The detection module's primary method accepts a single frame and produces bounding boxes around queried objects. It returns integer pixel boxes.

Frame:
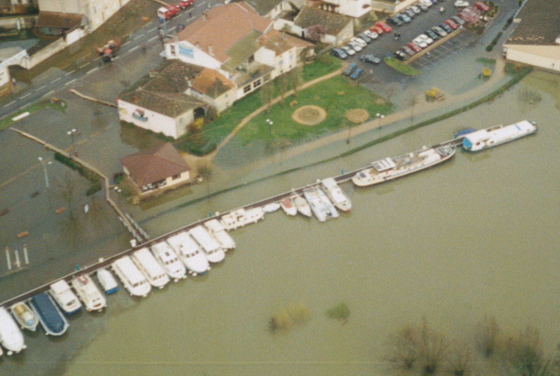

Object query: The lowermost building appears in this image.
[114,143,193,201]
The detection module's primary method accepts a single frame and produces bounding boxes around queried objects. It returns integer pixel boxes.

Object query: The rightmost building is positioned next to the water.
[501,0,560,62]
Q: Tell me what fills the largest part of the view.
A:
water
